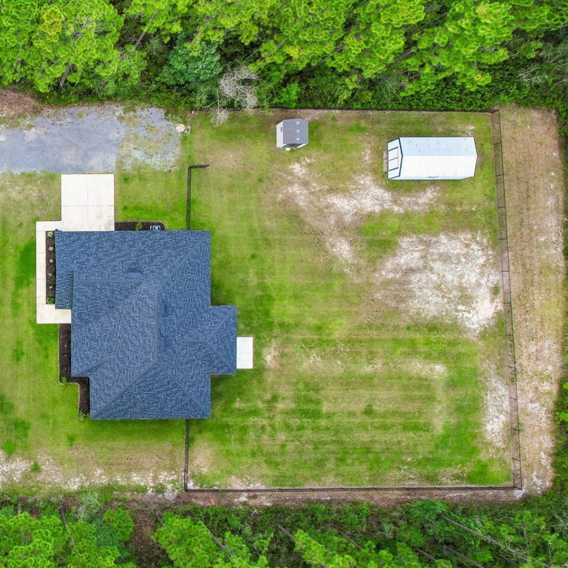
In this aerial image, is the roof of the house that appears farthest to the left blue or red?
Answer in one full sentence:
In this view, the roof of the house that appears farthest to the left is blue.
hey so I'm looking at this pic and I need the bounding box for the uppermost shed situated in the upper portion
[277,118,309,148]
